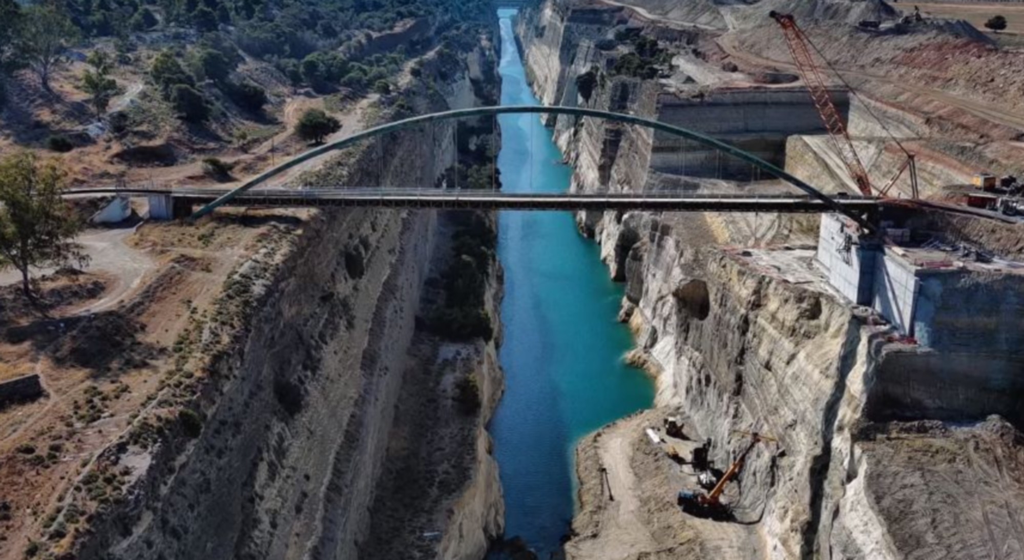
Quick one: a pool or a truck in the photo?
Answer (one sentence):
The one in the frame is a truck.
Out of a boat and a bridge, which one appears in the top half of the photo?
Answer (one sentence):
The one visible in the top half of the photo is a bridge.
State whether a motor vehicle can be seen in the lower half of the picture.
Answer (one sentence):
Yes, a motor vehicle can be seen in the lower half of the picture.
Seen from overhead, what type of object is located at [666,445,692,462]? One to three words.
work vehicle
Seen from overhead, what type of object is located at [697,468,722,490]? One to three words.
truck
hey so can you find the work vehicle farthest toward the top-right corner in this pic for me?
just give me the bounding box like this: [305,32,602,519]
[903,5,928,20]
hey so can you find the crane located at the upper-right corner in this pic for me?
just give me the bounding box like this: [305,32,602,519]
[769,10,919,187]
